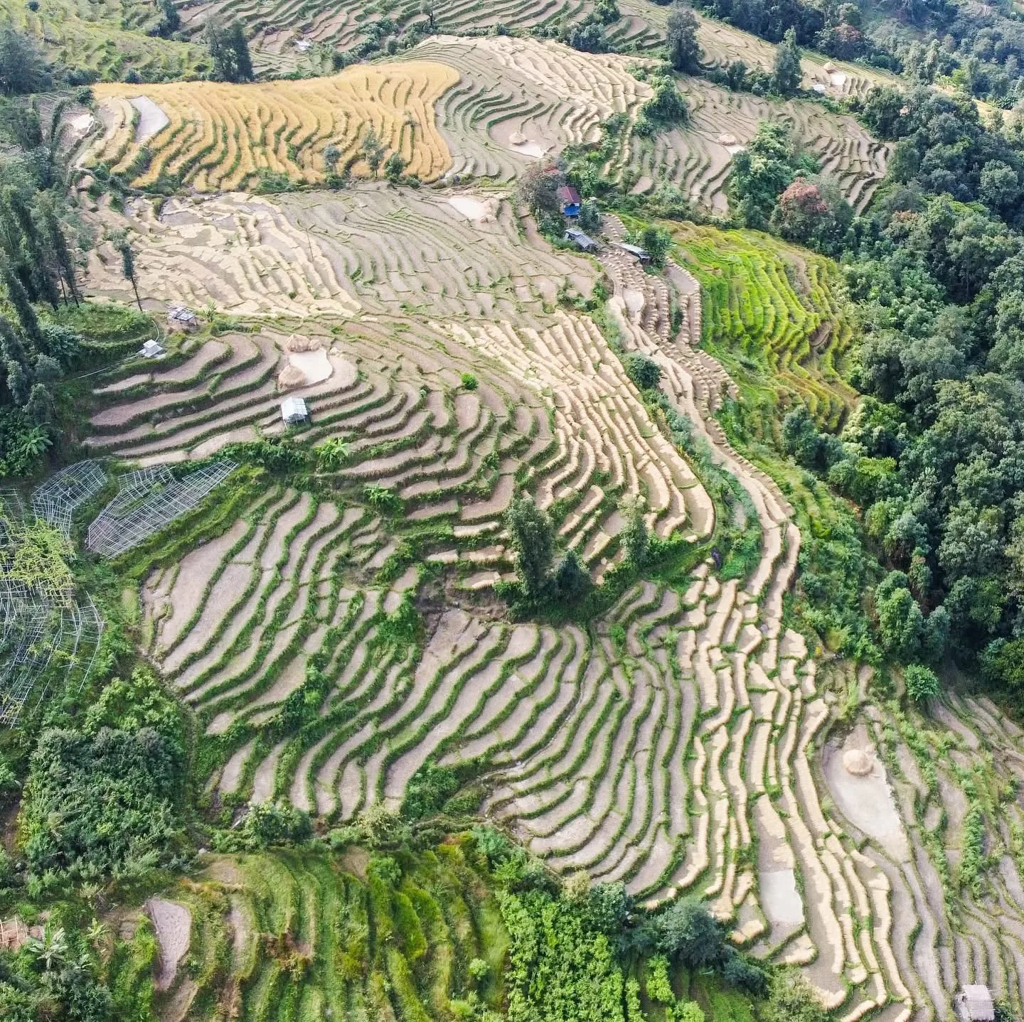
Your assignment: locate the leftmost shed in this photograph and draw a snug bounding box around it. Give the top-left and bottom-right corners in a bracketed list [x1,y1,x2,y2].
[162,309,199,332]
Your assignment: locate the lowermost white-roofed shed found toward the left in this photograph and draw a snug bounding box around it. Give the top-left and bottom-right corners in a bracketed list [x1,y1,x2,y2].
[278,398,306,433]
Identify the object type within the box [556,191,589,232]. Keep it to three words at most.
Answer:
building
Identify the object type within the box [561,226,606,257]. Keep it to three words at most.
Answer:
shed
